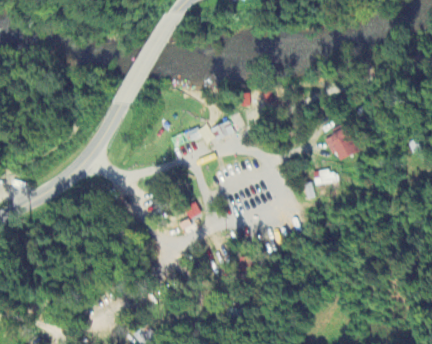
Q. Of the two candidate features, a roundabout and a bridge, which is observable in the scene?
bridge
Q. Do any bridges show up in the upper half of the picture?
Yes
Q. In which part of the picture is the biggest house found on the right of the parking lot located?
right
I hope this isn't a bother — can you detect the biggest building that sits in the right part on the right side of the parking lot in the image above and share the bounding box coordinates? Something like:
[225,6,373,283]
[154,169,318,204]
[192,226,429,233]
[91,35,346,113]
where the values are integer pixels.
[325,126,358,161]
